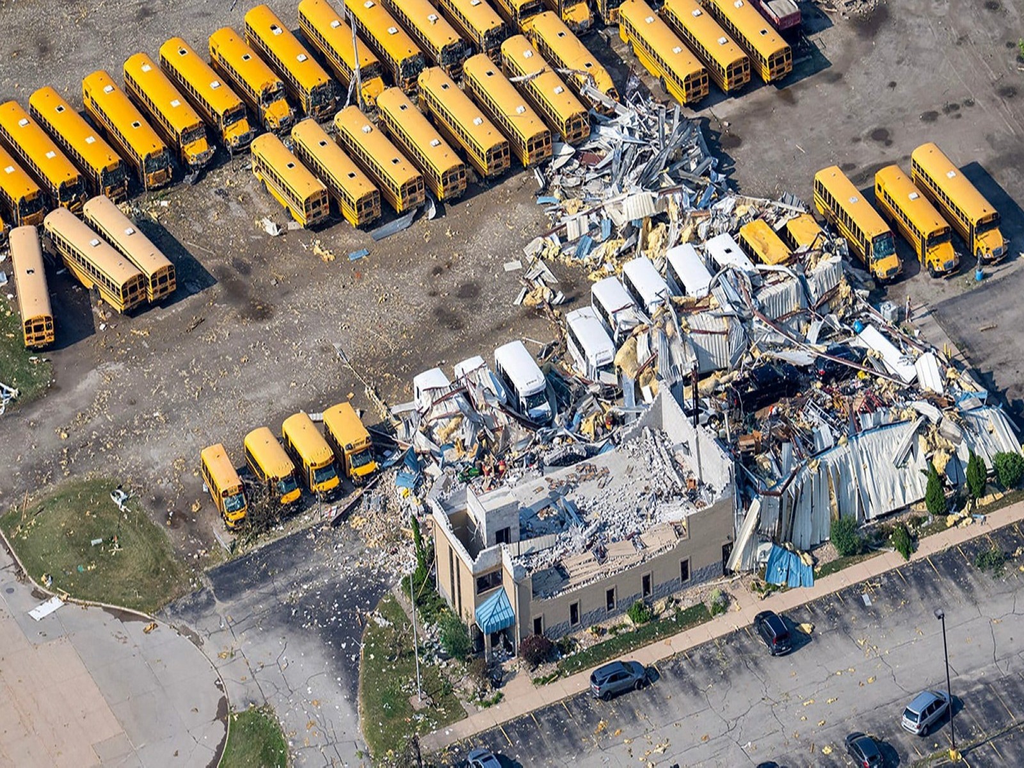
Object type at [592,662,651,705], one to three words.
car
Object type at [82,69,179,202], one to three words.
bus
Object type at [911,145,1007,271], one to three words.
bus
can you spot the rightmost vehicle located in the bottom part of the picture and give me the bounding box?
[892,689,957,739]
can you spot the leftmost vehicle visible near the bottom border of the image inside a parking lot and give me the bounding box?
[463,740,503,768]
